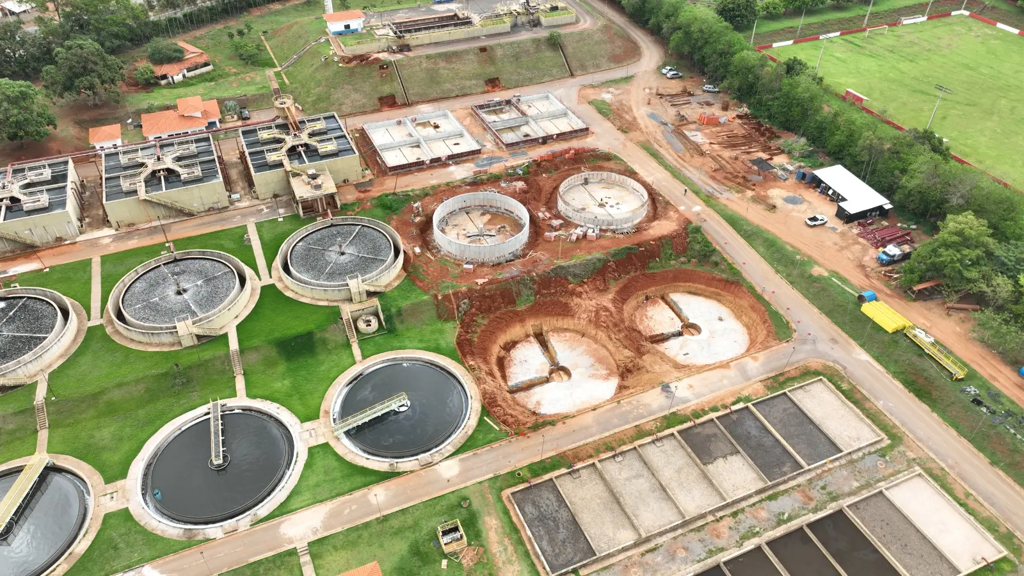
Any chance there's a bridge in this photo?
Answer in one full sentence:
Yes, there's a bridge here.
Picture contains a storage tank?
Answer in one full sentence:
Yes, a storage tank can be made out from above.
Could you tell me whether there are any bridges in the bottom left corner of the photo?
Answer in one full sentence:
Yes, the scene does show a bridge in the bottom left corner of the photo.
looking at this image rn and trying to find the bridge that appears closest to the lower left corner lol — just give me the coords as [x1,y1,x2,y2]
[0,448,51,527]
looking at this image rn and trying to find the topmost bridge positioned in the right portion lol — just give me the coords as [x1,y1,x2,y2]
[904,325,970,379]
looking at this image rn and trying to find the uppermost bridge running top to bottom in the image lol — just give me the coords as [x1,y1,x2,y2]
[206,396,229,463]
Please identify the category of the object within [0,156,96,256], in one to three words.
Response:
storage tank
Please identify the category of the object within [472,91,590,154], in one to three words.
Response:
storage tank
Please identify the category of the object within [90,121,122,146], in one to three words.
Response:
house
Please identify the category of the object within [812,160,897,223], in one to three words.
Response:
shed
